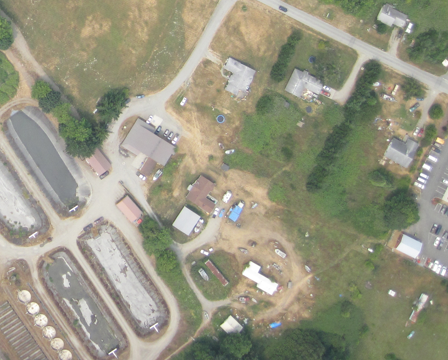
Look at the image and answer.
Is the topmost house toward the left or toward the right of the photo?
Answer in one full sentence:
You can find the topmost house on the right side of the picture.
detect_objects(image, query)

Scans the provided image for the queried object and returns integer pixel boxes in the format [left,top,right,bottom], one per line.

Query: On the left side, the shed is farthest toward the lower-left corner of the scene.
[116,194,143,223]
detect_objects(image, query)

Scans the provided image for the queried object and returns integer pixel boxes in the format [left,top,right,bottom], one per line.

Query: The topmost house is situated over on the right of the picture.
[378,4,407,29]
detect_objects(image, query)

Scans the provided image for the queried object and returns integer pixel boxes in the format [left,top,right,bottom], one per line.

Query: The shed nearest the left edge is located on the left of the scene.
[86,148,113,176]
